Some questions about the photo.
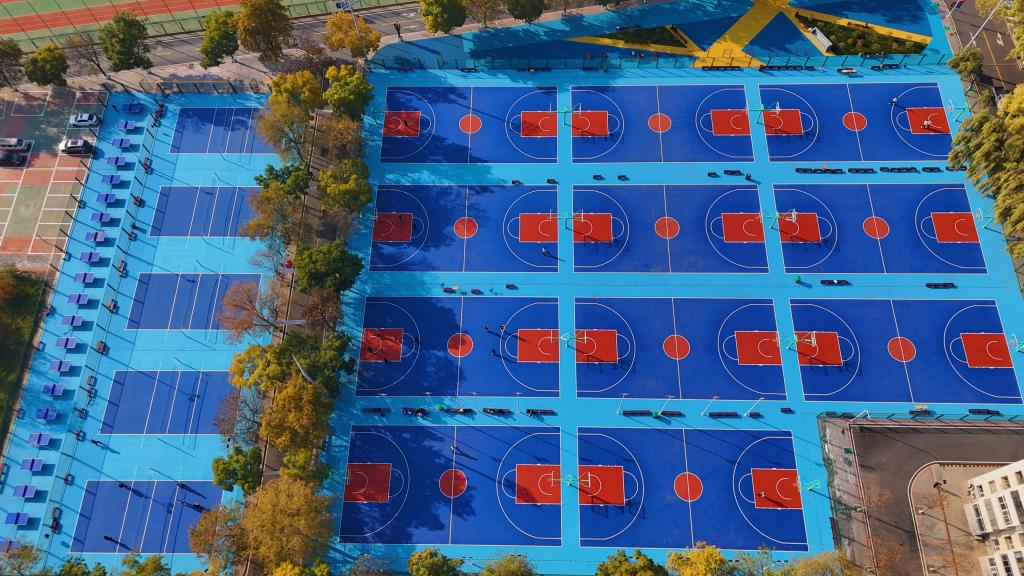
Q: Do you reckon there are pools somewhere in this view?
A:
No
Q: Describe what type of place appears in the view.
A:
sports ground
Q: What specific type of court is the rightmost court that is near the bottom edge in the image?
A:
basketball court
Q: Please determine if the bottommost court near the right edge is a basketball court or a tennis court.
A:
basketball court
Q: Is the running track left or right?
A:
left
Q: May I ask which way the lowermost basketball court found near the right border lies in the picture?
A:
from side to side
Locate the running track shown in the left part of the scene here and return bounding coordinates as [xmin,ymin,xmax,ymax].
[0,0,413,52]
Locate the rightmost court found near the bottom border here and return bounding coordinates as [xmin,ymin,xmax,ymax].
[577,428,808,551]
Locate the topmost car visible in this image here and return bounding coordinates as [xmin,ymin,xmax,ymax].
[67,112,97,126]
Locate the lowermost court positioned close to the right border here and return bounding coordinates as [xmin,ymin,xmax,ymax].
[791,298,1022,403]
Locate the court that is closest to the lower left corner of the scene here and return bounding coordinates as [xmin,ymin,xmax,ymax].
[69,467,221,569]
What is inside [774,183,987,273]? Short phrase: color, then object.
blue basketball court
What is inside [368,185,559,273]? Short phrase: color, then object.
blue basketball court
